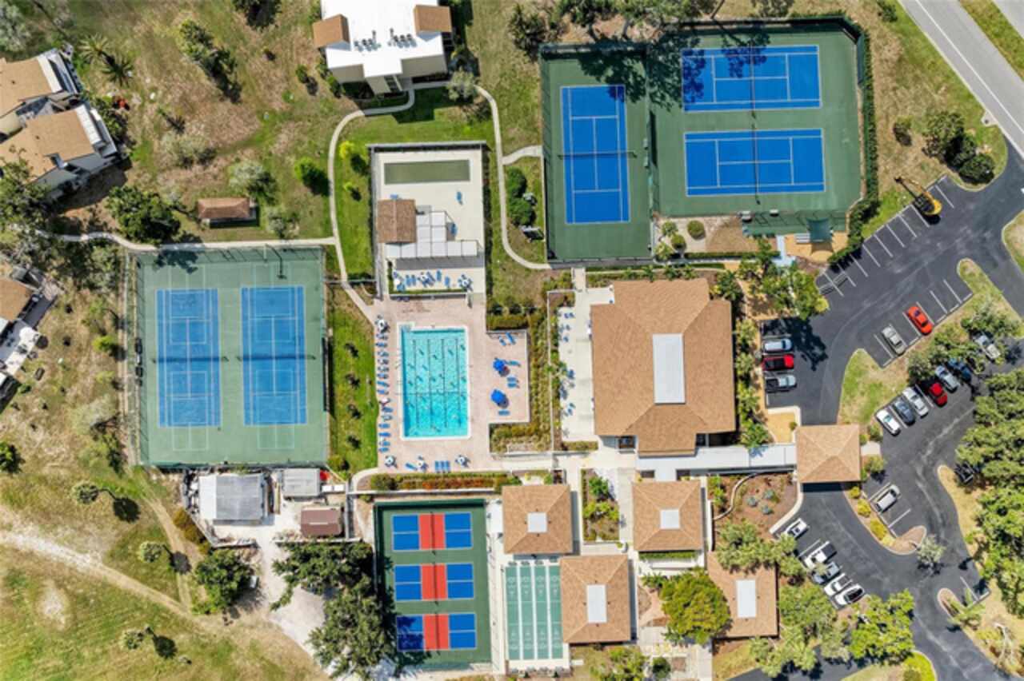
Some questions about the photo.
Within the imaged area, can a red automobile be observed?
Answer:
Yes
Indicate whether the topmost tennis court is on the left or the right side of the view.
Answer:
right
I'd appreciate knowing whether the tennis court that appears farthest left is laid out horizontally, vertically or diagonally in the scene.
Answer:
vertically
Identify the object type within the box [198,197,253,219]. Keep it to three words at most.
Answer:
shed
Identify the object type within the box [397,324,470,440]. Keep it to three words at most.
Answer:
swimming pool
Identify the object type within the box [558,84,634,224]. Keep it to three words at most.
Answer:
tennis court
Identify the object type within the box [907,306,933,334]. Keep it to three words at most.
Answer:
car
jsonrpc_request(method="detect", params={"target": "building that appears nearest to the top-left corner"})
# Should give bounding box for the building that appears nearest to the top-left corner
[0,46,85,141]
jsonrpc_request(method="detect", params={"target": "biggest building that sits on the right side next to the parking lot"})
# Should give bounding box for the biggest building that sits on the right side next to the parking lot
[591,278,736,455]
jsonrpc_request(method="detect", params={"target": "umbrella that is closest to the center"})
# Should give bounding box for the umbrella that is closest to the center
[492,359,506,372]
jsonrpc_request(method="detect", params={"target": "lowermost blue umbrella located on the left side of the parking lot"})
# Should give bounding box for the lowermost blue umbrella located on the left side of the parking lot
[490,389,505,404]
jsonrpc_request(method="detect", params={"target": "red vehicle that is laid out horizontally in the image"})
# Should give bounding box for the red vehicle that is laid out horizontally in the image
[761,356,794,369]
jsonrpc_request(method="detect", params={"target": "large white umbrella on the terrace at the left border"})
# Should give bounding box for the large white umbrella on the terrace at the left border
[11,324,35,342]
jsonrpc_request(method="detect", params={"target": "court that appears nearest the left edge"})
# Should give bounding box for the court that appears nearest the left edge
[150,264,224,450]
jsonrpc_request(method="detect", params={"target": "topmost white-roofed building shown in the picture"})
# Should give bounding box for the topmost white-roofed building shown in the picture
[313,0,452,92]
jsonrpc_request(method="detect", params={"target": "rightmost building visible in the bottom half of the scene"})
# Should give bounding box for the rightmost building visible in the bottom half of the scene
[791,424,861,483]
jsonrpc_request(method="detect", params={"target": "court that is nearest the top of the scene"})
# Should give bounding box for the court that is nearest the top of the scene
[681,39,821,115]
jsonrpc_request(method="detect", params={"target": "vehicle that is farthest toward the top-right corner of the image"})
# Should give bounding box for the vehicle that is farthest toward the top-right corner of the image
[897,177,941,215]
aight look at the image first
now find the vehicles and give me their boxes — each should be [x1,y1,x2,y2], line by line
[897,177,941,215]
[923,379,949,407]
[811,556,840,584]
[874,407,900,435]
[763,376,796,389]
[880,326,906,354]
[784,517,807,537]
[902,388,927,416]
[761,338,791,352]
[836,582,864,605]
[802,538,835,568]
[761,356,794,369]
[907,306,933,334]
[890,397,915,425]
[949,353,974,380]
[871,487,899,513]
[934,365,960,391]
[823,572,853,600]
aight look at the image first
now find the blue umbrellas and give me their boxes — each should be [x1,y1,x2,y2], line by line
[492,359,506,372]
[490,389,505,404]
